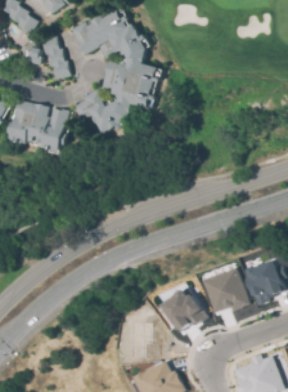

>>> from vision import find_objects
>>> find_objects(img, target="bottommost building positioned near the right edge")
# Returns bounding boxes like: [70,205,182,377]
[232,356,285,392]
